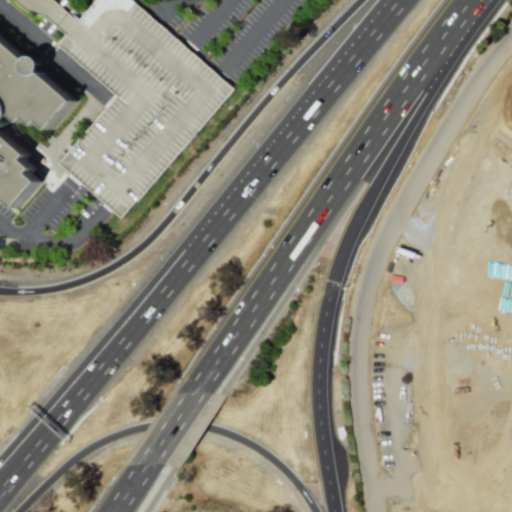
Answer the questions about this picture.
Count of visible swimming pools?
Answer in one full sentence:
The count of swimming pools is 0.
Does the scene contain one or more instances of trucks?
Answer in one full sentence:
Yes, a truck appears in the view.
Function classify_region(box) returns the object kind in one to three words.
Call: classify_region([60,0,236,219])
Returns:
building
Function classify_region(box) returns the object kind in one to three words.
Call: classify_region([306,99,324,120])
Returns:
vehicle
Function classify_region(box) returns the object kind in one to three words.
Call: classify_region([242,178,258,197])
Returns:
vehicle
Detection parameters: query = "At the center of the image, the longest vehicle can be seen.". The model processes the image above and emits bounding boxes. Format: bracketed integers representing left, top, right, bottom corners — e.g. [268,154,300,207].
[289,217,321,258]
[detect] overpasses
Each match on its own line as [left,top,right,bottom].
[123,394,230,468]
